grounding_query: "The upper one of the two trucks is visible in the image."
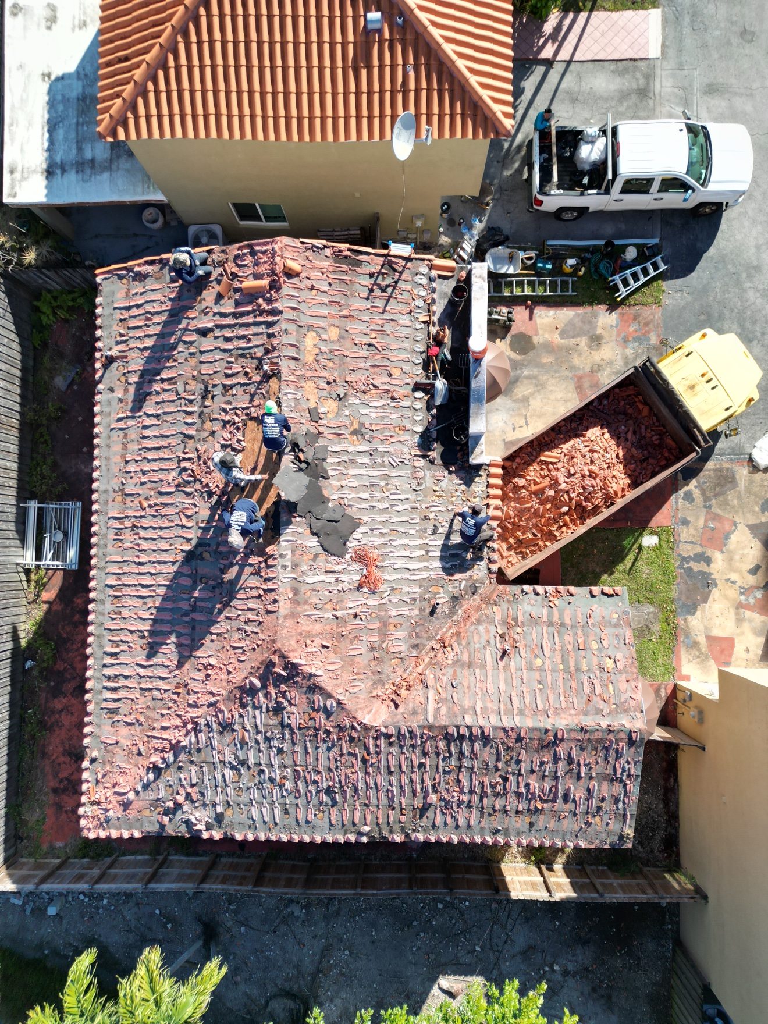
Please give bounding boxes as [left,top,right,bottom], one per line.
[521,106,754,216]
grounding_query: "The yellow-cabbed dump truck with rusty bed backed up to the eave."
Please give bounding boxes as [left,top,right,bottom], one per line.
[486,328,764,580]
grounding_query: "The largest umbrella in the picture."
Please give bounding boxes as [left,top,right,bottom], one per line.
[487,343,521,406]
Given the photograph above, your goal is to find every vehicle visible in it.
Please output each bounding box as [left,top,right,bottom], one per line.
[486,328,764,580]
[521,106,754,216]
